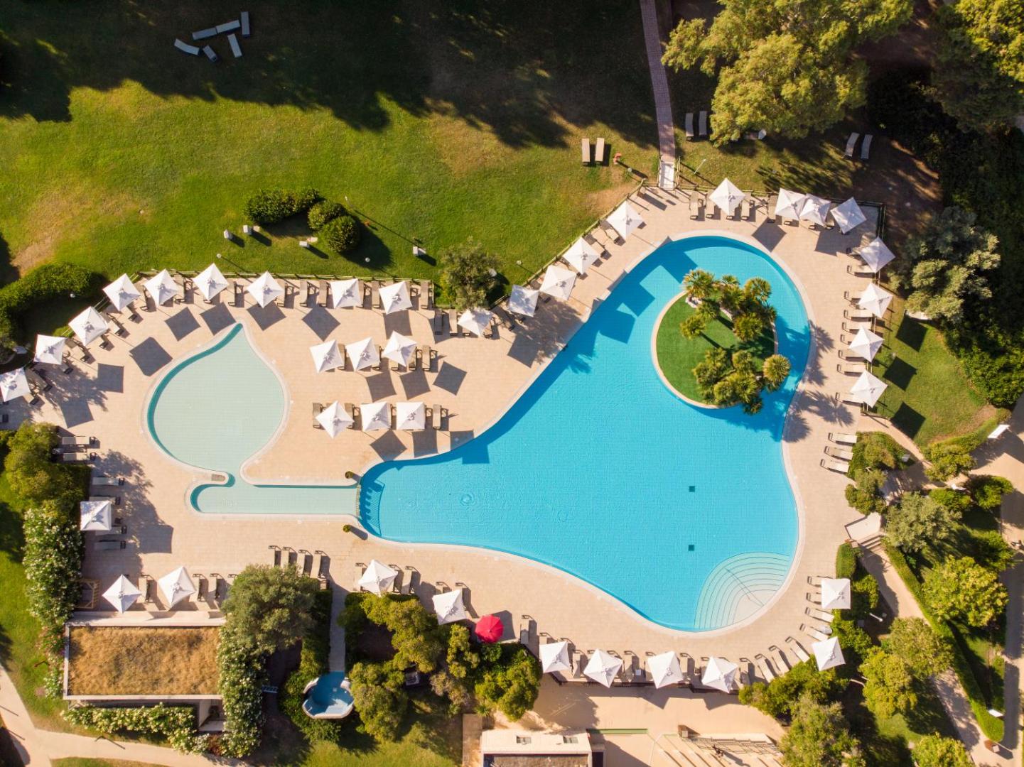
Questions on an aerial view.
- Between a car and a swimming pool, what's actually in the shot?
swimming pool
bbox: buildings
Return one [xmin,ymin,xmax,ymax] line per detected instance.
[64,612,232,698]
[486,730,590,767]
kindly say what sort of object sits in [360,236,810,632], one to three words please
swimming pool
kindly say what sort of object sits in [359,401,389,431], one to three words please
umbrella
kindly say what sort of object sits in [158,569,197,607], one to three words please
umbrella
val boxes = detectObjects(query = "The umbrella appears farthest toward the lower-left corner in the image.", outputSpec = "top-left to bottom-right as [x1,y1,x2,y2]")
[101,575,142,614]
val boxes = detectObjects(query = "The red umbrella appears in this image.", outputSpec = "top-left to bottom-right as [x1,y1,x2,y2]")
[475,615,504,644]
